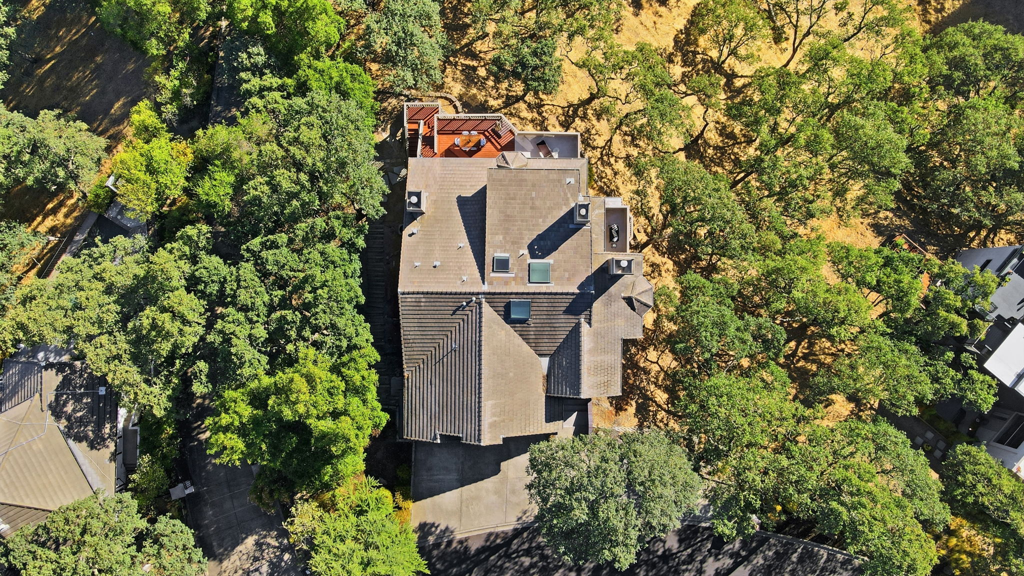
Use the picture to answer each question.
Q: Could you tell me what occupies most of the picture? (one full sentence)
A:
For the most part, this view shows trees.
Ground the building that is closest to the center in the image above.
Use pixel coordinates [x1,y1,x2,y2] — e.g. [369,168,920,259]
[397,151,654,448]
